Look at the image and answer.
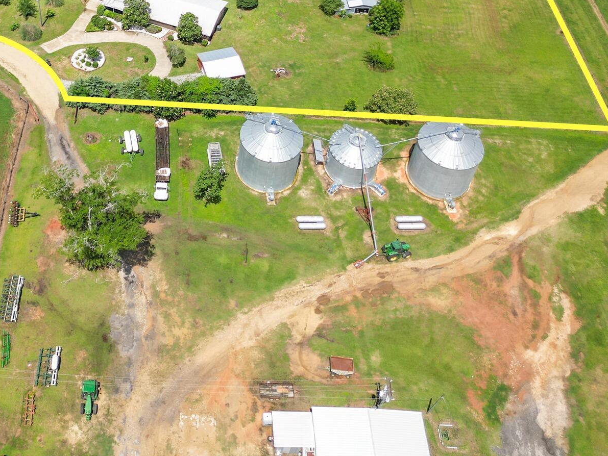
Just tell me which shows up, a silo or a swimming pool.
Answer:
silo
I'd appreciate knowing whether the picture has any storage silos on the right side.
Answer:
Yes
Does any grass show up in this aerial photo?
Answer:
Yes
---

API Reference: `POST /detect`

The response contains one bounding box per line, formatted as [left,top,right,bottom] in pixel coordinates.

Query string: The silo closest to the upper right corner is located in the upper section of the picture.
[403,117,488,204]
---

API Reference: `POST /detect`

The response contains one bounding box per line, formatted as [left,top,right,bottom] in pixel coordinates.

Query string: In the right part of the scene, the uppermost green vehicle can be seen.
[383,238,419,263]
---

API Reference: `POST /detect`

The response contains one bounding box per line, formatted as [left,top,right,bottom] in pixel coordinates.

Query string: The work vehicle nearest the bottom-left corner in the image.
[79,382,101,423]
